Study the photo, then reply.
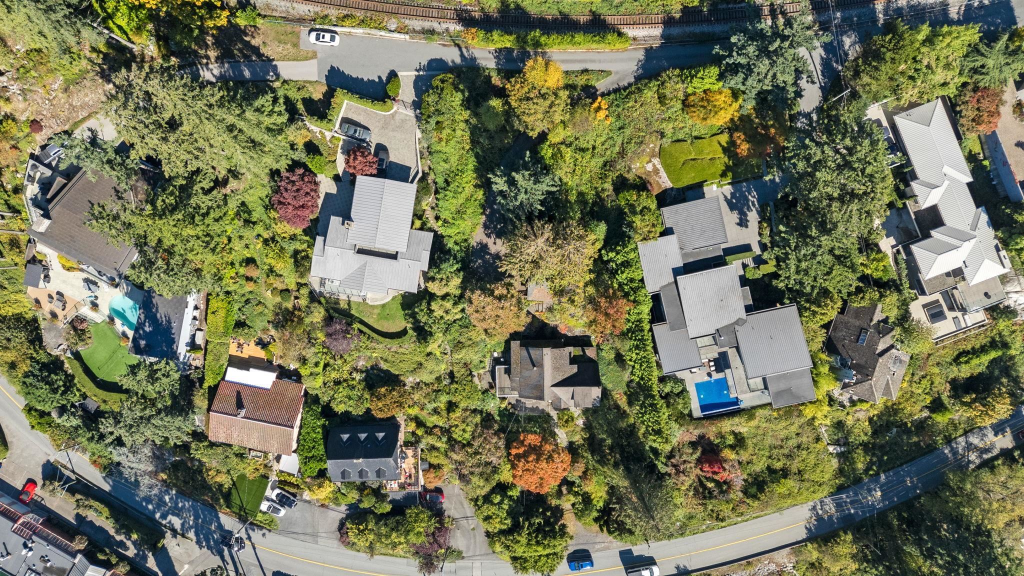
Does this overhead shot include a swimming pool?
Yes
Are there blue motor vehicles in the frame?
Yes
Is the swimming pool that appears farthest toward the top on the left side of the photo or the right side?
left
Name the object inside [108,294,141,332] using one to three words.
swimming pool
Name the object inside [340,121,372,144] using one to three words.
car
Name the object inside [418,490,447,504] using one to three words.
car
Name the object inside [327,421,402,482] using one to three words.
house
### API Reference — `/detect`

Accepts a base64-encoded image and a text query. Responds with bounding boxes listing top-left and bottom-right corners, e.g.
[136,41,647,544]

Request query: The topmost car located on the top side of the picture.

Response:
[308,29,341,47]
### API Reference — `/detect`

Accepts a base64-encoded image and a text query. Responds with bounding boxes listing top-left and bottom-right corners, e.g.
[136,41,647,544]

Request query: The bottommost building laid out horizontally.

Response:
[389,492,418,505]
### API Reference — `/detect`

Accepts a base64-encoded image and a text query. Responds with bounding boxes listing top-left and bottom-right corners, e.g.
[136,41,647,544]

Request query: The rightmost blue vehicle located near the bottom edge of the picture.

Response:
[568,557,596,574]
